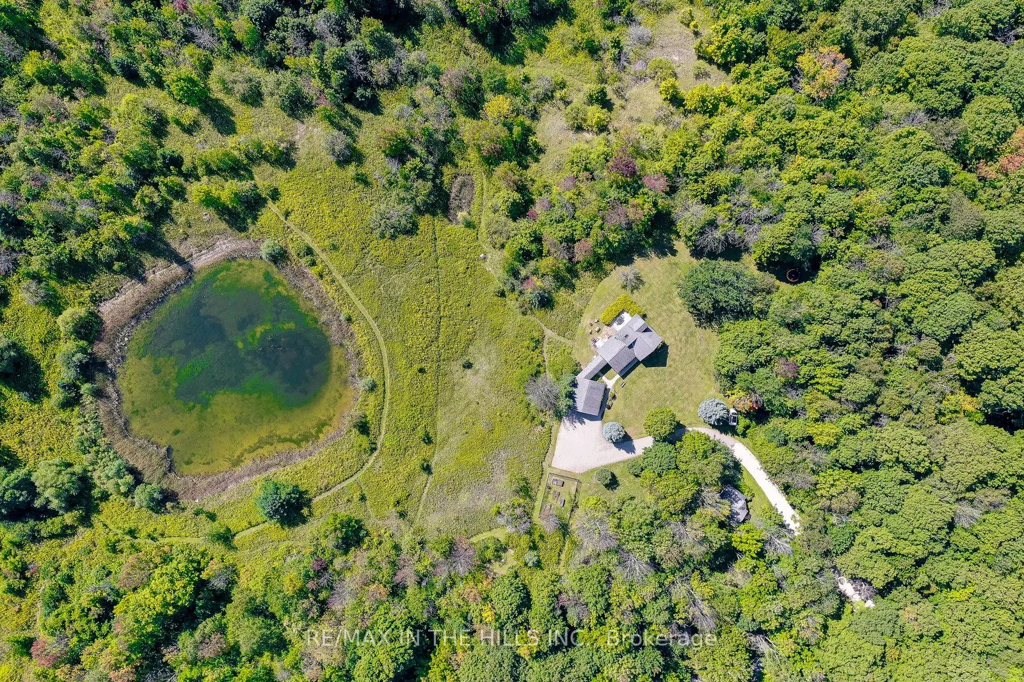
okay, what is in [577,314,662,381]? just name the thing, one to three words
house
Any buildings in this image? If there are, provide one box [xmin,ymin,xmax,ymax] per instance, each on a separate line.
[577,314,662,381]
[714,486,748,524]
